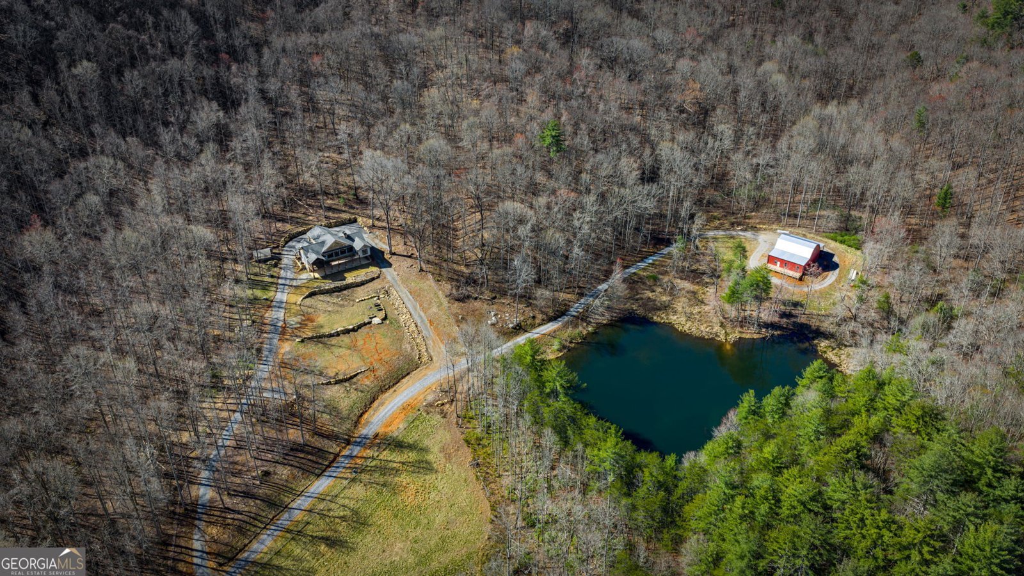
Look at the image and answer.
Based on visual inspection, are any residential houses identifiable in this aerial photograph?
Yes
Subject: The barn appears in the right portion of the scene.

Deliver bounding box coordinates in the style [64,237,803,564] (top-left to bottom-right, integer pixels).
[767,233,821,280]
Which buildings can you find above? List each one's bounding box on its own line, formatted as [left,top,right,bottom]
[767,233,821,280]
[251,247,273,264]
[298,223,372,278]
